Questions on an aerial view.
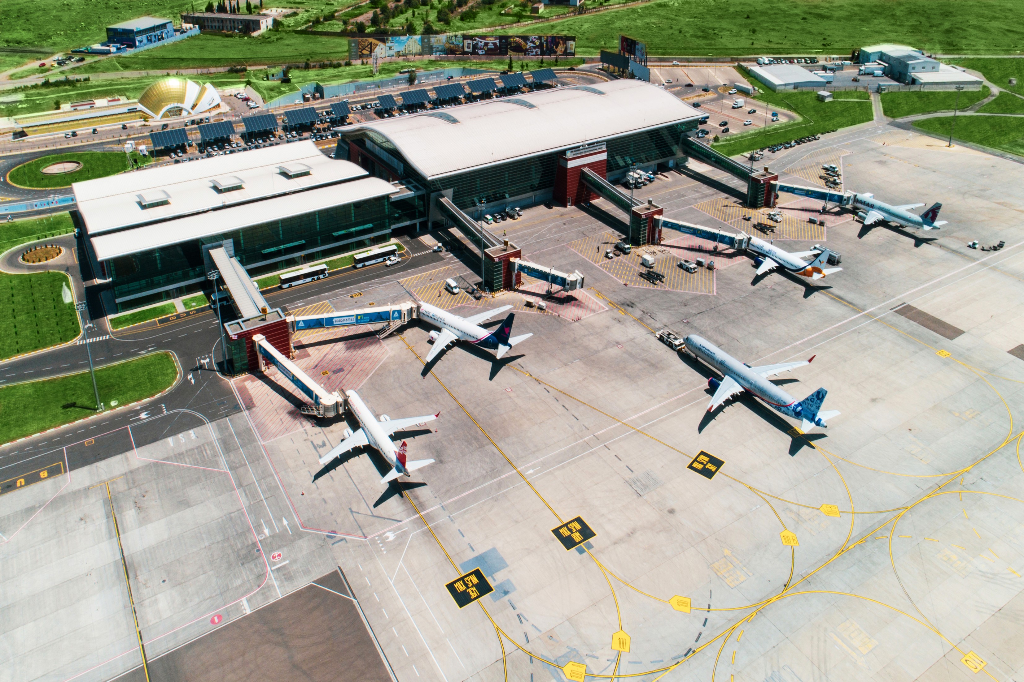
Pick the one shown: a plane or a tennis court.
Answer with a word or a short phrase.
plane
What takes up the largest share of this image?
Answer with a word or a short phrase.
paved ground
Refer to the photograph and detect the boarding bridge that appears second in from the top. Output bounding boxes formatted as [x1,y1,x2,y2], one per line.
[656,214,746,258]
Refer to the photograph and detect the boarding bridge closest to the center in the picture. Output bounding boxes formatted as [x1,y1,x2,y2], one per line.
[511,257,584,299]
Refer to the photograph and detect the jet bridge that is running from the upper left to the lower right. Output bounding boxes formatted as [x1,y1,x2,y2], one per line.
[252,334,350,417]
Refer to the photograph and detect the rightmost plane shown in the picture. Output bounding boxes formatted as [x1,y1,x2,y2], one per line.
[853,190,949,229]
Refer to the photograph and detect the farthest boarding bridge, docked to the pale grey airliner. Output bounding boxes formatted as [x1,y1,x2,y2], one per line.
[772,180,856,216]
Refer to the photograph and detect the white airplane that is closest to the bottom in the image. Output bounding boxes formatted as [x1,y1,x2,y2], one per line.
[316,387,441,486]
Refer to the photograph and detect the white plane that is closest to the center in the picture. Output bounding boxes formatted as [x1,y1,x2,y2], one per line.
[413,299,530,361]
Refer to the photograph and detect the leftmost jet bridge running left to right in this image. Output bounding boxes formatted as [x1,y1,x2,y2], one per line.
[287,296,418,355]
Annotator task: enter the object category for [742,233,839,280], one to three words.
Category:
airplane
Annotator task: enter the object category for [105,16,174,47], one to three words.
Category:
building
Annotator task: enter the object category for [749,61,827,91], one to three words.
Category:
building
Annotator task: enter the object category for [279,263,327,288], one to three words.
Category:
bus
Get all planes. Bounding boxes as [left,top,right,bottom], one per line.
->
[681,332,838,431]
[316,387,441,486]
[413,299,530,361]
[853,190,949,229]
[742,233,839,280]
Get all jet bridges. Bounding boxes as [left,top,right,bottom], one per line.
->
[287,296,418,355]
[772,180,856,216]
[656,214,746,258]
[511,257,584,299]
[252,334,350,417]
